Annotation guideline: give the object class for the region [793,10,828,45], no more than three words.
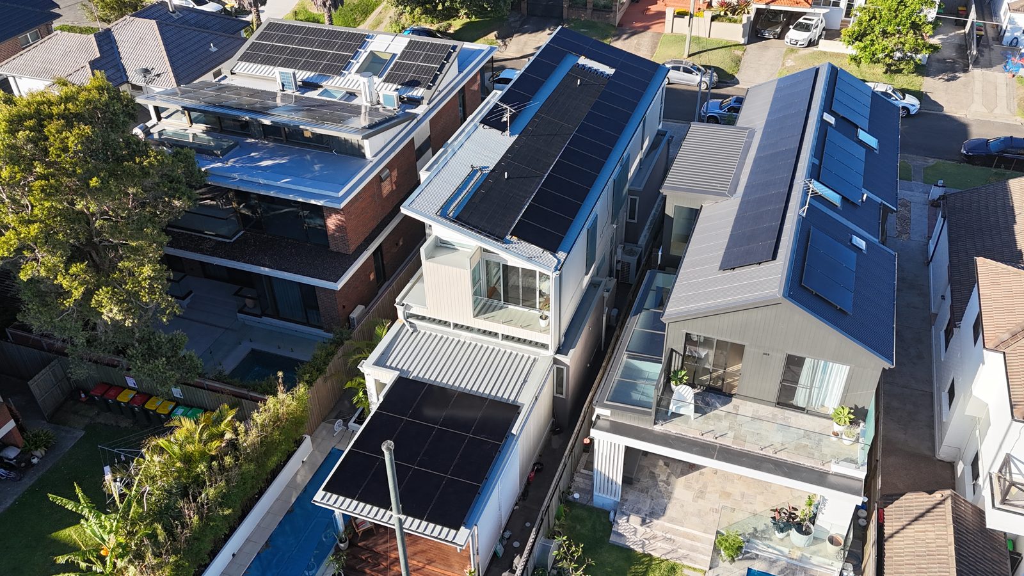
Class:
car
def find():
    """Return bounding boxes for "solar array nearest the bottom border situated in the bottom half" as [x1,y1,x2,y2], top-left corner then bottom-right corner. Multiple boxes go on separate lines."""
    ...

[328,371,520,524]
